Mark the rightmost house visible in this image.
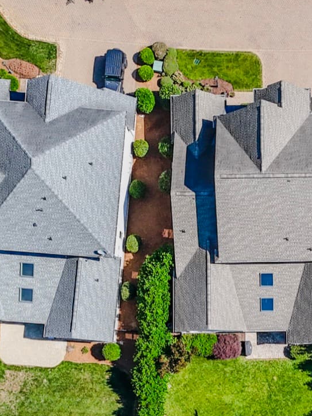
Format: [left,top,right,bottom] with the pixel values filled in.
[168,81,312,344]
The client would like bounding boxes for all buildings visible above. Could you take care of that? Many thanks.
[168,81,312,344]
[0,75,143,343]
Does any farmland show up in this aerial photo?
No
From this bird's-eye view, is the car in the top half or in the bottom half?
top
